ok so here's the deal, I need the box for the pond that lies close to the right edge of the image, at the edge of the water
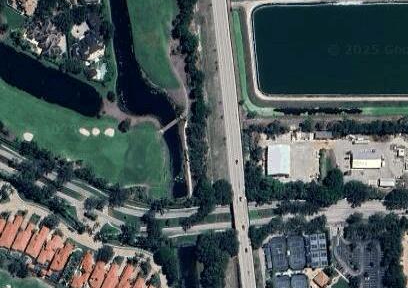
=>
[253,3,408,95]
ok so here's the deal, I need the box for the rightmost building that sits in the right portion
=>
[352,148,381,168]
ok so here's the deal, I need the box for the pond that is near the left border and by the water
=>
[0,44,100,114]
